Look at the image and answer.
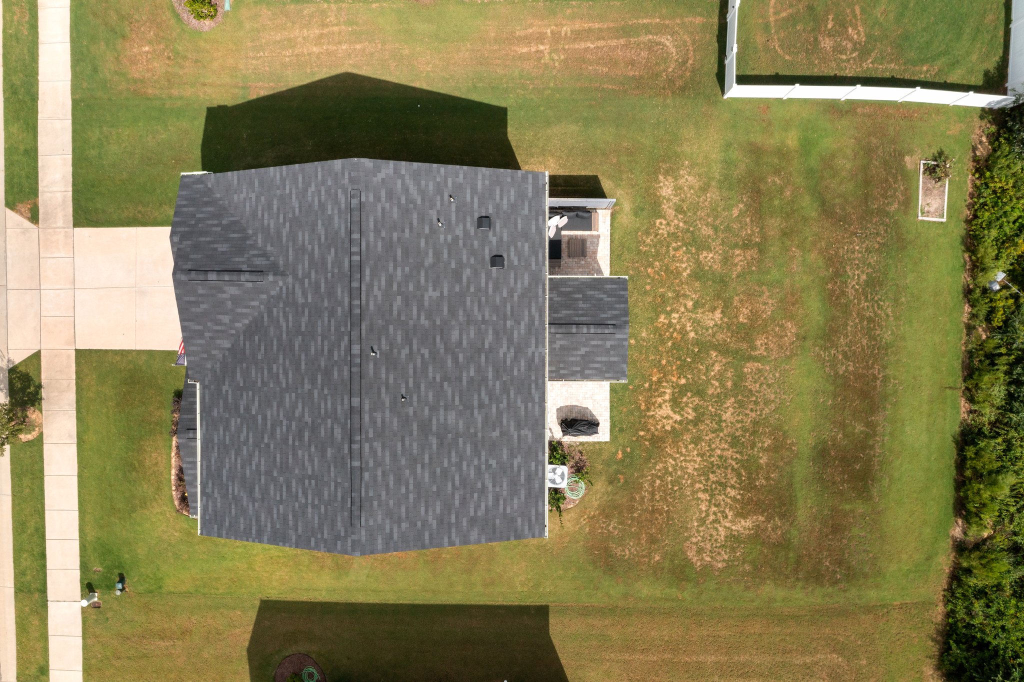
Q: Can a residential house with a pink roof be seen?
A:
No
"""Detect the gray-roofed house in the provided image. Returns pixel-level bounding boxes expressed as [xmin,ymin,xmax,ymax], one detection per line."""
[170,158,630,555]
